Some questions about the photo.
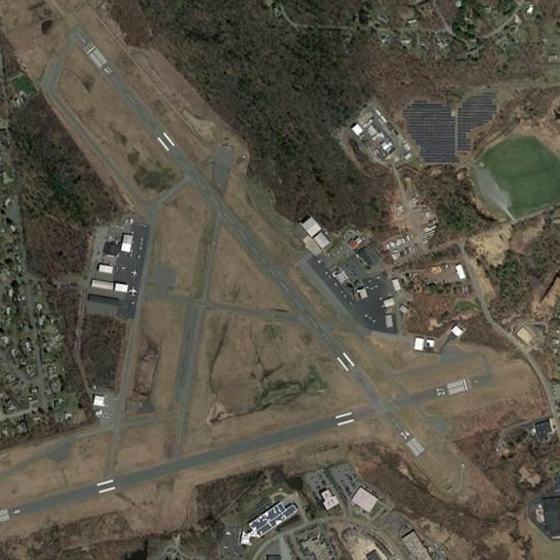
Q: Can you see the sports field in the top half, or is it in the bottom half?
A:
top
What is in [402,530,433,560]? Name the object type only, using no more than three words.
building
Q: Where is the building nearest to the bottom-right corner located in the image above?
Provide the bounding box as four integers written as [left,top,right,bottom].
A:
[542,497,560,538]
